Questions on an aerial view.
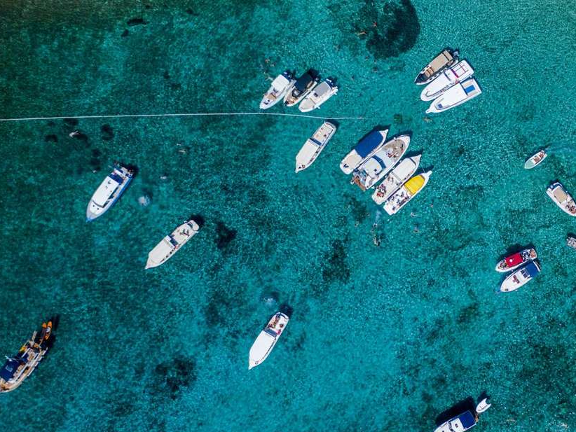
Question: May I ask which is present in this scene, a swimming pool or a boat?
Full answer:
There is a boat in the scene.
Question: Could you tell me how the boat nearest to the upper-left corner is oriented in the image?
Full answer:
The boat nearest to the upper-left corner is oriented on a diagonal.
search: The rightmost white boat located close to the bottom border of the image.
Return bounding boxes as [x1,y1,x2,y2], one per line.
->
[476,398,491,414]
